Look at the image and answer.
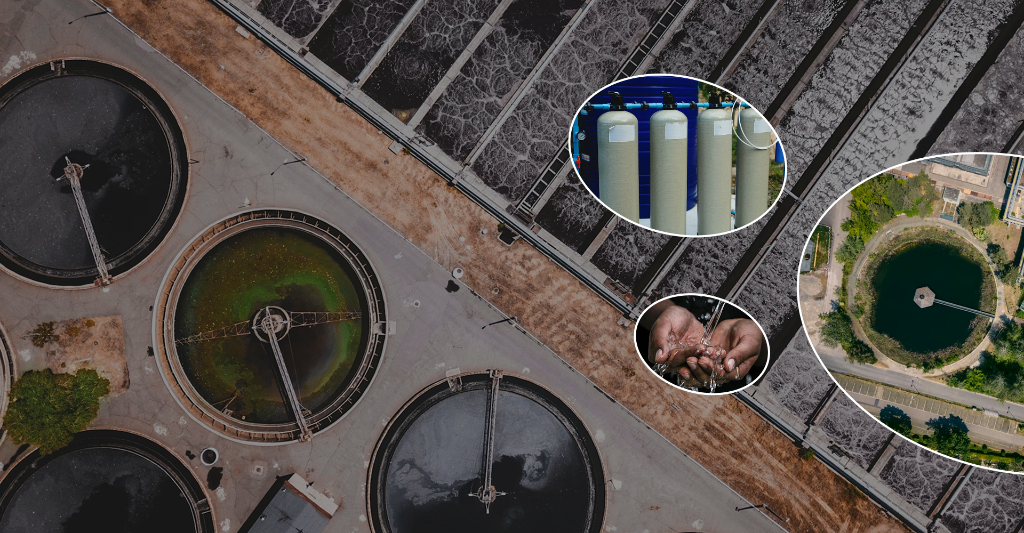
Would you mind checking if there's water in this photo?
Yes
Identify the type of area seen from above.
industrial area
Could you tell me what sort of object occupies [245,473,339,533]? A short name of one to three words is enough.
shed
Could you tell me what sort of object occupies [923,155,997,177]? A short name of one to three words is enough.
greenhouse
